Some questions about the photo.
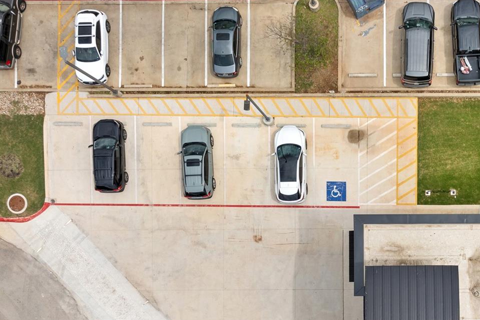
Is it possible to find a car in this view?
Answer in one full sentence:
Yes, the picture does show a car.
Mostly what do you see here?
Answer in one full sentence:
Most of the picture is covered by paved ground.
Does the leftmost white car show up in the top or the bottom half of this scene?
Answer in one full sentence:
The leftmost white car sits in the top half of the picture.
